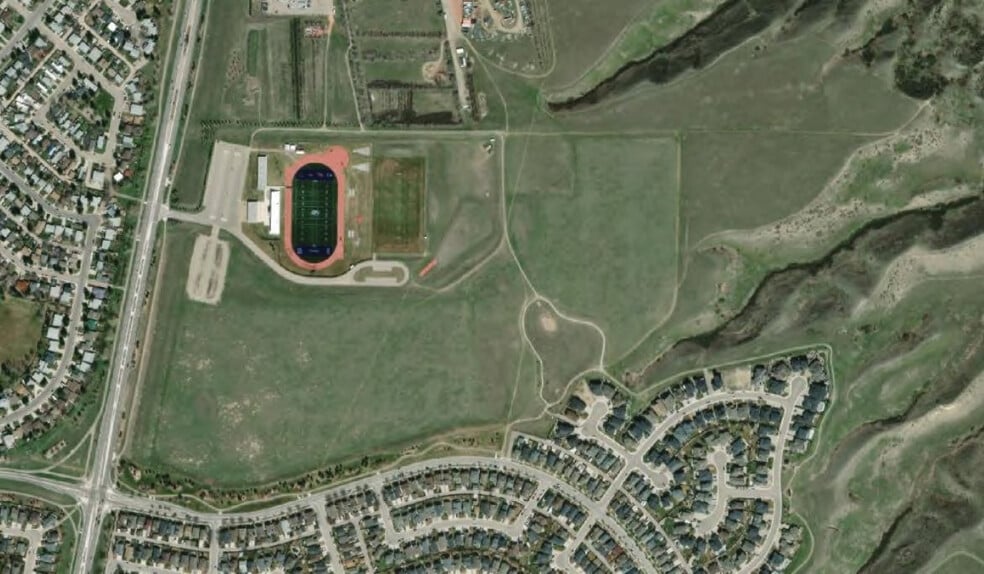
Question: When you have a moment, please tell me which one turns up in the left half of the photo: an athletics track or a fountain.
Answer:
athletics track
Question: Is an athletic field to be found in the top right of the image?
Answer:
No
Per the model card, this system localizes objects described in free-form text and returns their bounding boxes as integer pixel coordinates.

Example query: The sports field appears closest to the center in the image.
[374,157,427,255]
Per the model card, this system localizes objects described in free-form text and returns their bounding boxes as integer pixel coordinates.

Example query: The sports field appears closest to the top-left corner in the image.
[293,162,337,262]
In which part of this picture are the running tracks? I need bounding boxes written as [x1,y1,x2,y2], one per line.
[285,145,349,271]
